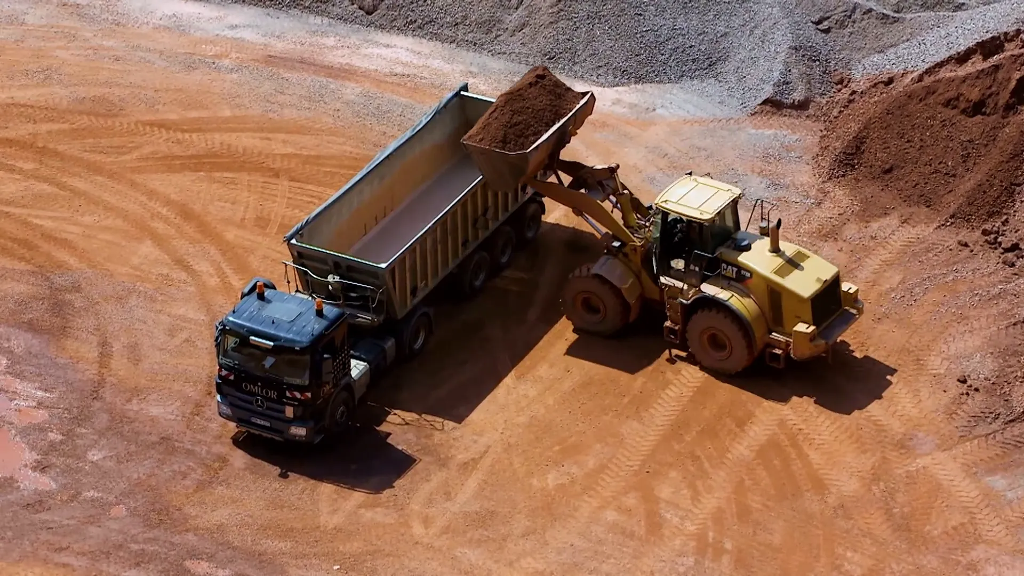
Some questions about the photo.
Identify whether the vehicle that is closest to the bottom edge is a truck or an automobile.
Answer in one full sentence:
I'd say the vehicle that is closest to the bottom edge is a truck.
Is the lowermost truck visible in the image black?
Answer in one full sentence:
Yes, the lowermost truck is black.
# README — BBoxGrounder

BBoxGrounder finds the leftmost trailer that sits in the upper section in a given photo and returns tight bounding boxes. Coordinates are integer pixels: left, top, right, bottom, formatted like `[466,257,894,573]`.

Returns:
[276,83,552,331]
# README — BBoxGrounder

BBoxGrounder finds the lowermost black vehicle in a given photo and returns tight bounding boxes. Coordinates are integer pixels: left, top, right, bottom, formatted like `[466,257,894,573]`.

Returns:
[214,277,436,449]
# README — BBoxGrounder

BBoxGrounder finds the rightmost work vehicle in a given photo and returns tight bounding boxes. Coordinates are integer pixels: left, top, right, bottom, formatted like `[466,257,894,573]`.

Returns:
[461,94,869,378]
